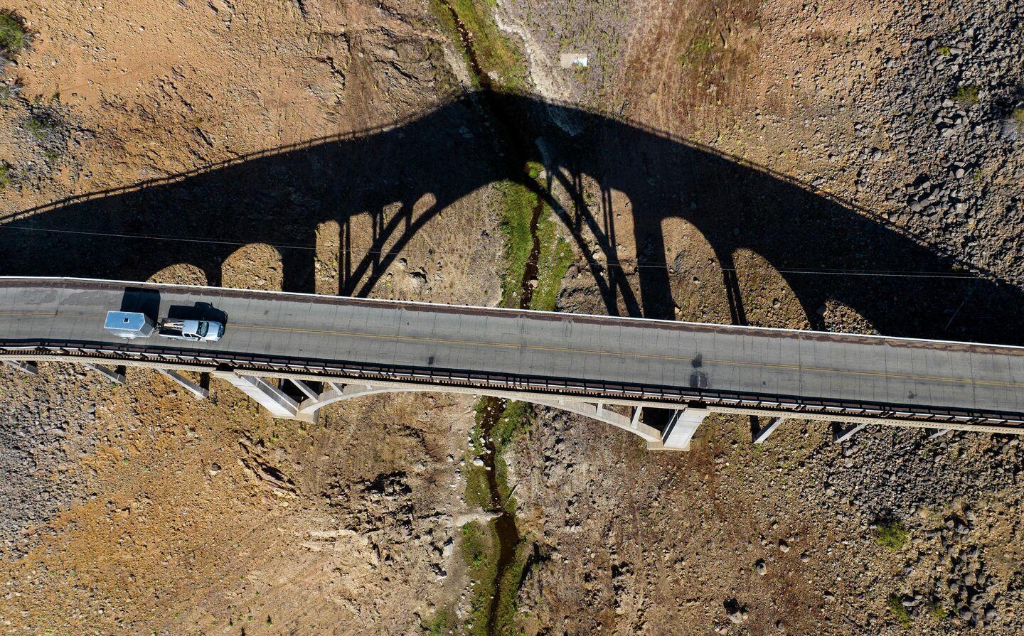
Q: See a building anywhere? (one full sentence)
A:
No, there appears to be no building in this shot.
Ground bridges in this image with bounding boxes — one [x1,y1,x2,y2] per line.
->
[0,275,1024,451]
